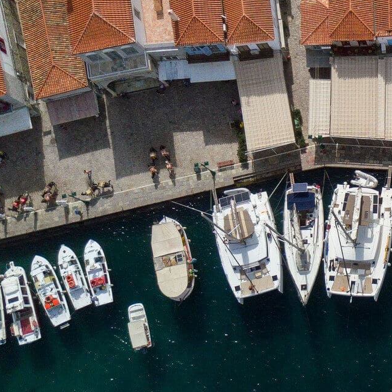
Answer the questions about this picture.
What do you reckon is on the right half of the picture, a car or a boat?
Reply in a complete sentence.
Looking on the right half of the picture, you will find a boat.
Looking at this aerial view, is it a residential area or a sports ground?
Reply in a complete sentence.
The area seen from above is a residential area.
